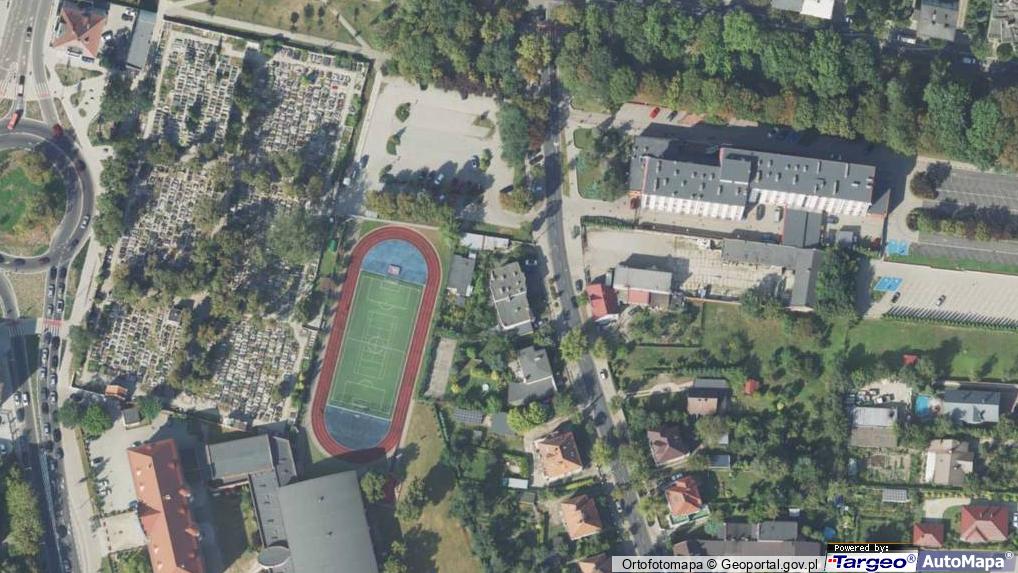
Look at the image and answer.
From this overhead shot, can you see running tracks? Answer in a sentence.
Yes, the picture does show a running track.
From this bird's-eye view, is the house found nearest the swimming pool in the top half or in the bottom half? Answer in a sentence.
It is in the bottom half that the house found nearest the swimming pool appears.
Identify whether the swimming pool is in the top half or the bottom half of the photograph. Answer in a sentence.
Seen from above, the swimming pool lies in the bottom half of the view.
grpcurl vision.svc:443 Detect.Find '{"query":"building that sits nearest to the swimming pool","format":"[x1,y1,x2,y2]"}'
[940,391,1002,426]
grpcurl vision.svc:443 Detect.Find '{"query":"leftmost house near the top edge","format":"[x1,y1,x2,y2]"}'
[53,9,109,62]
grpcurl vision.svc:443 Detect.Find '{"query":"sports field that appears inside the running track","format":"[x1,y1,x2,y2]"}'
[328,270,424,422]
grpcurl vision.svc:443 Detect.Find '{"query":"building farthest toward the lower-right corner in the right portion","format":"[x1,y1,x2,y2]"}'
[957,505,1008,545]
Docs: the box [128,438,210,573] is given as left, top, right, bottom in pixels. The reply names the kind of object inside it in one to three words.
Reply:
building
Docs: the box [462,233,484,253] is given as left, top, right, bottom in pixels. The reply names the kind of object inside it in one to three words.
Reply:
shed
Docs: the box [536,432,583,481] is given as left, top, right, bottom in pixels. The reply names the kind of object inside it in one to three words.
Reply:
house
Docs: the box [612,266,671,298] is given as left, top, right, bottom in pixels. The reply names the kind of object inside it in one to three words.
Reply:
building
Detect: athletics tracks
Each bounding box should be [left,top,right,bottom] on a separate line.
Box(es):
[311,223,443,465]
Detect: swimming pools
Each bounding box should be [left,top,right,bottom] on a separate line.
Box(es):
[915,393,941,417]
